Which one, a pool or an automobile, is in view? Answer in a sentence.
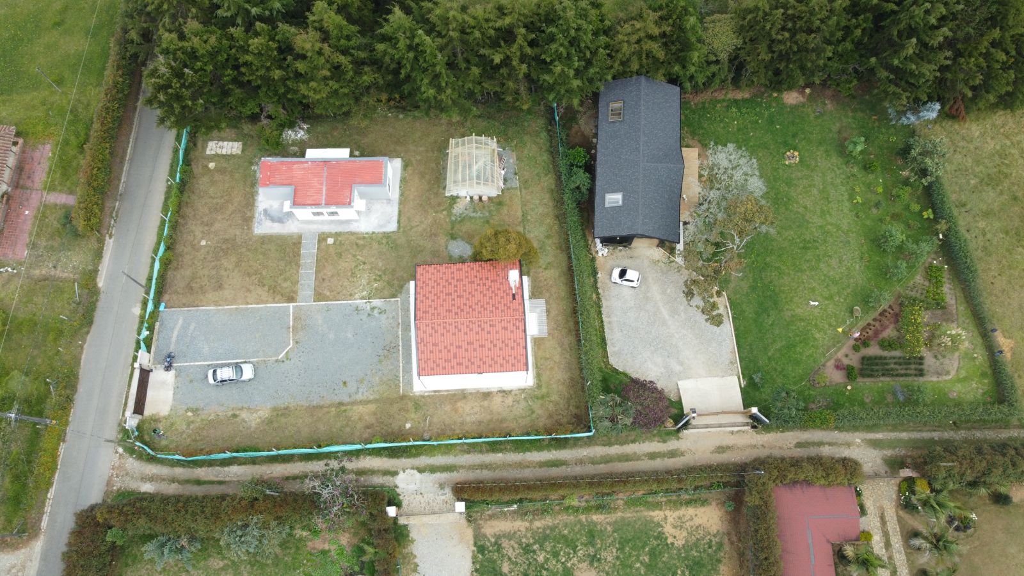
It is an automobile that can be seen here.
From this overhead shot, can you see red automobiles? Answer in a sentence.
No, the photo shows no red automobile.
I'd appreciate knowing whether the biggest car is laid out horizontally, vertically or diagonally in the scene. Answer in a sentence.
The biggest car is laid out horizontally.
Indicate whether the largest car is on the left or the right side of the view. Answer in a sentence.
The largest car sits on the left side.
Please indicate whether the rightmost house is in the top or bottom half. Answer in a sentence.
The bottom half of the photo is where the rightmost house is.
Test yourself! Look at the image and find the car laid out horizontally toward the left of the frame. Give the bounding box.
[206,362,253,386]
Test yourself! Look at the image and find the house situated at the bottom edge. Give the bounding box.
[771,486,860,576]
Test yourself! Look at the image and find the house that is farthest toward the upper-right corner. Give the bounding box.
[594,75,685,252]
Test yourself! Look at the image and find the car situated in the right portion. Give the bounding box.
[610,265,644,288]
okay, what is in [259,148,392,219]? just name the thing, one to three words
house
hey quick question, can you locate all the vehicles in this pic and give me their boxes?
[610,265,644,288]
[206,362,253,386]
[161,352,172,371]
